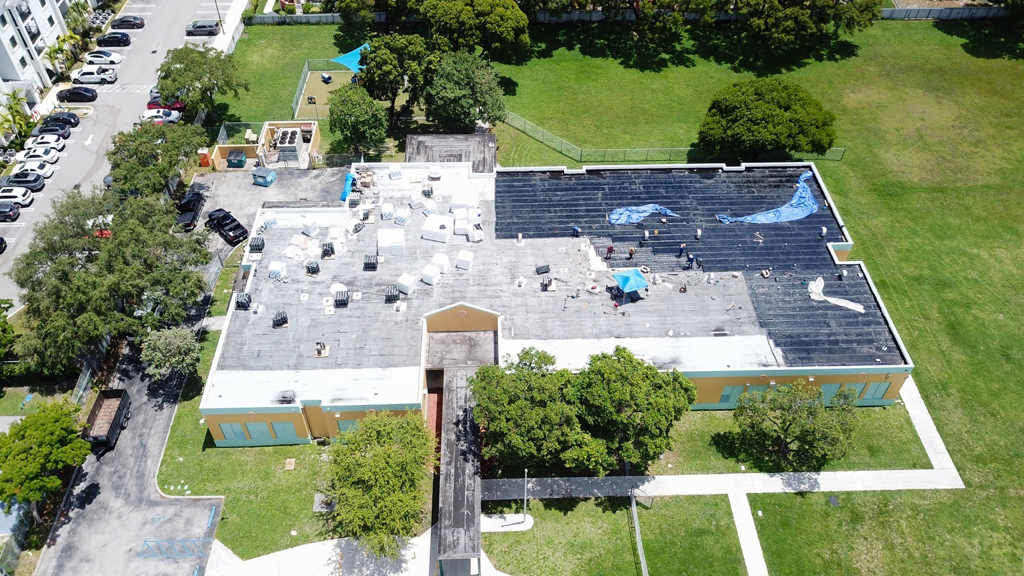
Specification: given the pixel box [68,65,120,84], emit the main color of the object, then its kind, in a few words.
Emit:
white vehicle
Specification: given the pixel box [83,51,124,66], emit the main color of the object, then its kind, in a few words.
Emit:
white car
